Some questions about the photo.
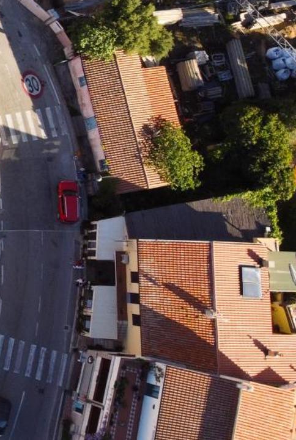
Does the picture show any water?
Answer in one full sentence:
No, there is no water in the image.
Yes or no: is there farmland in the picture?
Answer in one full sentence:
No, the picture contains no farmland.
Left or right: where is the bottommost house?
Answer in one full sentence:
The bottommost house is on the right side of the image.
